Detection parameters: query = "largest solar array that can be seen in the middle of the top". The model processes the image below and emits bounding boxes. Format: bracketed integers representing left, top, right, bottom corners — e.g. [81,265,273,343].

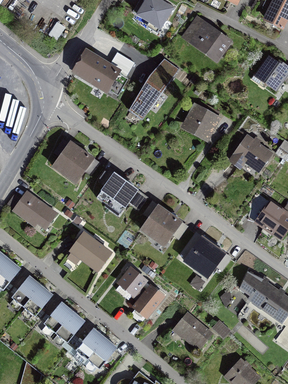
[131,83,162,117]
